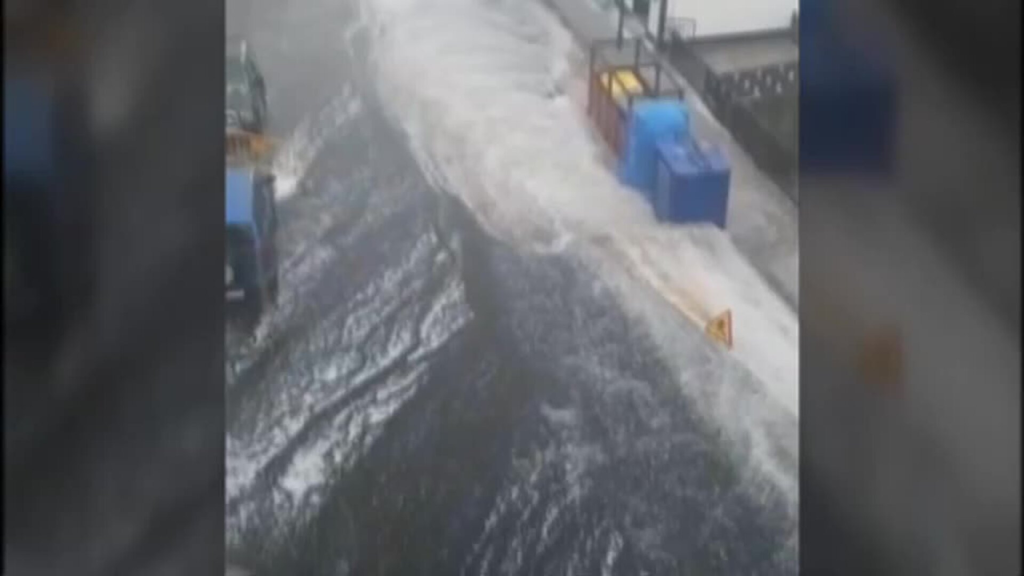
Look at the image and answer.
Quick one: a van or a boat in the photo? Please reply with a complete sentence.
The one in the frame is a van.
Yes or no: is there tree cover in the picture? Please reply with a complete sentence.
No, tree cover can't be seen anywhere here.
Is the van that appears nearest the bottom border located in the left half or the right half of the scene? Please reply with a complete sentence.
The van that appears nearest the bottom border appears in the left half of the scene.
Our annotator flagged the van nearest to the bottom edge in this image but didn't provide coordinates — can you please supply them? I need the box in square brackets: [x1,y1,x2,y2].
[178,169,272,314]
